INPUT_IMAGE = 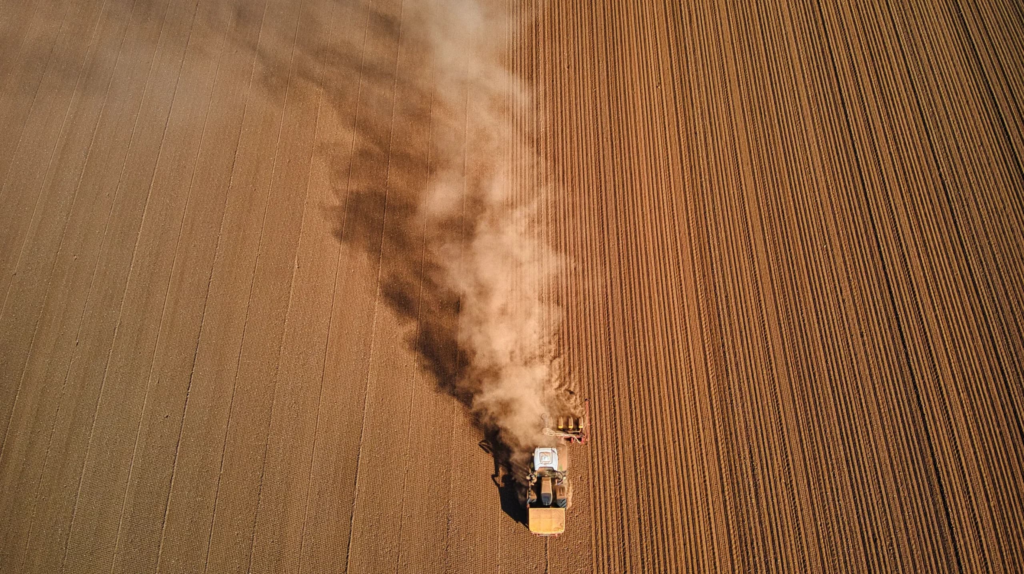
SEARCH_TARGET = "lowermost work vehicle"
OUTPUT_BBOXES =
[523,436,568,511]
